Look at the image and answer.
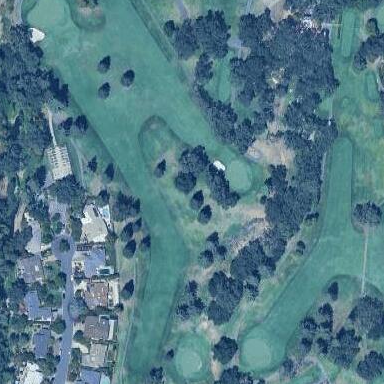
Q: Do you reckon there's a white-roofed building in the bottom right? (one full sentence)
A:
No, no white-roofed building is visible in the bottom right.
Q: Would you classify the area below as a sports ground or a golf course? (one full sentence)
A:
This image shows a golf course.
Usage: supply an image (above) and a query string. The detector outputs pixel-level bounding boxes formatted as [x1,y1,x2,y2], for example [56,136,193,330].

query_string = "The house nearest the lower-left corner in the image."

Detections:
[17,361,41,384]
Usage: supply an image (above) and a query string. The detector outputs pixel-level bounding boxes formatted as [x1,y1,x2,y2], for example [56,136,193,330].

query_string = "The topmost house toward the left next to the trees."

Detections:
[82,204,107,240]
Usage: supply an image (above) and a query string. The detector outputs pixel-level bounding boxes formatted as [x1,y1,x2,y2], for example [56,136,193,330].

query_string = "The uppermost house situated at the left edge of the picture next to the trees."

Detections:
[18,256,41,281]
